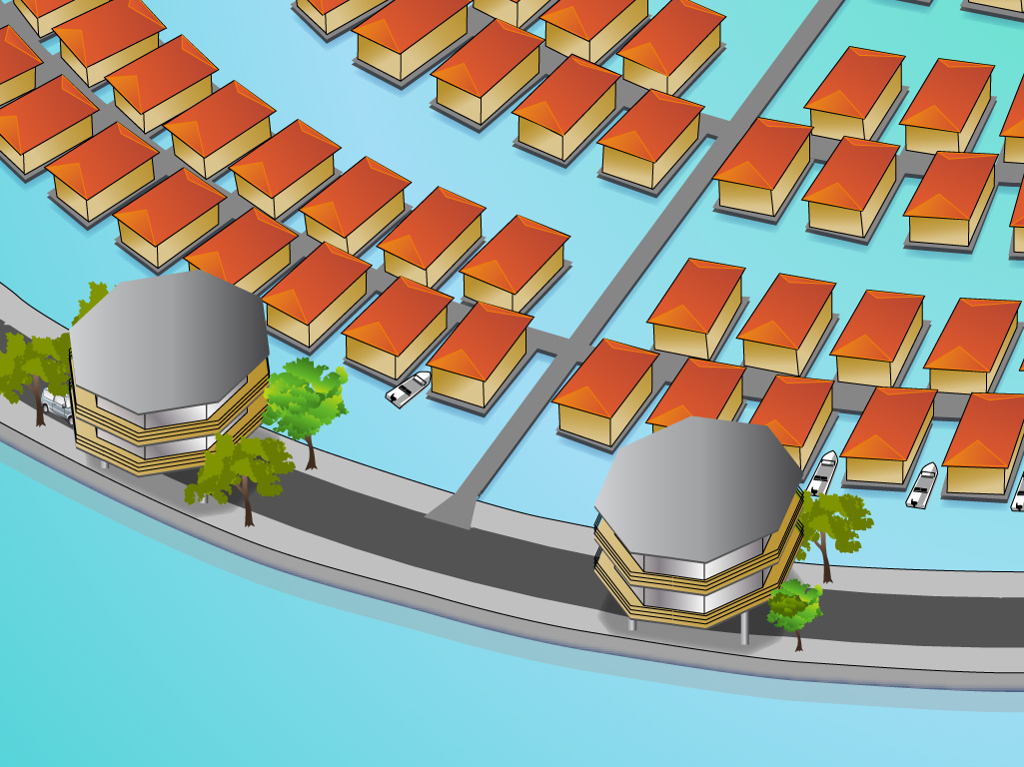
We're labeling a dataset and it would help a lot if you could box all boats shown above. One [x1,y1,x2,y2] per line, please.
[386,372,432,410]
[806,450,840,501]
[906,461,939,513]
[1010,475,1024,517]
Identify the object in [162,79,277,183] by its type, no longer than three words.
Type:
house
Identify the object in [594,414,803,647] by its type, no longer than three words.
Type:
building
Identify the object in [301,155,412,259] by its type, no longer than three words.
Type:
house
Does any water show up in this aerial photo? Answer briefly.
Yes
